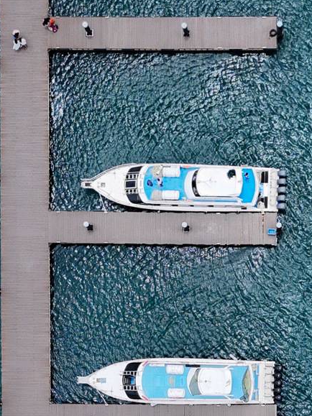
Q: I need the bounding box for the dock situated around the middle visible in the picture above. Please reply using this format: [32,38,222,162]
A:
[51,212,279,249]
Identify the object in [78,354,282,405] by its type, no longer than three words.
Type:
boat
